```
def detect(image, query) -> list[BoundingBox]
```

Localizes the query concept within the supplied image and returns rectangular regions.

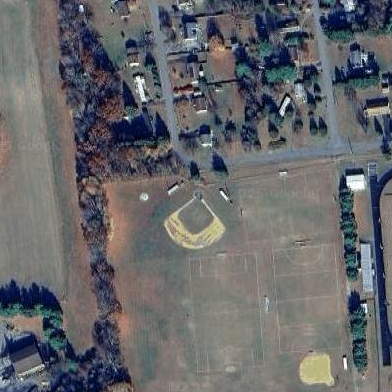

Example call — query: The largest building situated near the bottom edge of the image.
[9,344,45,379]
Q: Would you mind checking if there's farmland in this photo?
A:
Yes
